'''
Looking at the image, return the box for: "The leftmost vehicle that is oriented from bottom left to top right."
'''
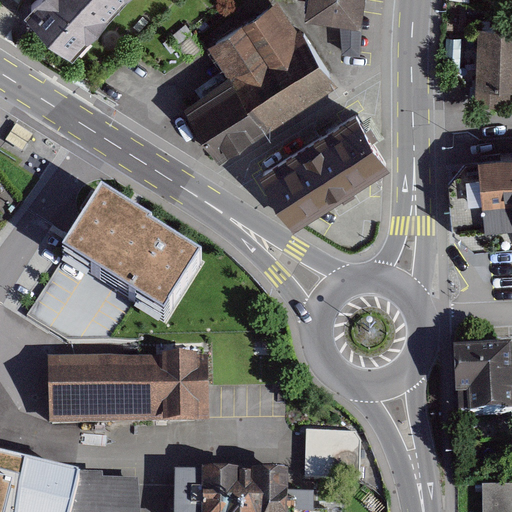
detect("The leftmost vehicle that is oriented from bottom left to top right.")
[262,152,284,169]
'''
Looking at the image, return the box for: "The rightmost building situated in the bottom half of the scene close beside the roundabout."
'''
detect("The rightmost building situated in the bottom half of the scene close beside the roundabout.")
[454,339,512,418]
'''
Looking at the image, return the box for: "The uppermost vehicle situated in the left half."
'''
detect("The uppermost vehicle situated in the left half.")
[132,64,149,80]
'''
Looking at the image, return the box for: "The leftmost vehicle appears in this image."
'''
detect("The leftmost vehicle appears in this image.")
[15,284,36,296]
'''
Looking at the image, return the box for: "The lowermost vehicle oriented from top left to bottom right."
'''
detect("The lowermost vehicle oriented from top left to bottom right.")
[294,301,313,324]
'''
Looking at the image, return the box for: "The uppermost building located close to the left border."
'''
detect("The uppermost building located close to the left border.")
[24,0,134,62]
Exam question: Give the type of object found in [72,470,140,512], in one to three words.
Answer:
shed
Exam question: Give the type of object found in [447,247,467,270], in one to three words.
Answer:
car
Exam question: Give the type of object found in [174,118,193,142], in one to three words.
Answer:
car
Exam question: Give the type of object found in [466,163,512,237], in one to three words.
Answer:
house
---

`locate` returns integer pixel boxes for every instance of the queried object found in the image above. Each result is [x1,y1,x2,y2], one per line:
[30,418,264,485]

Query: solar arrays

[54,384,151,415]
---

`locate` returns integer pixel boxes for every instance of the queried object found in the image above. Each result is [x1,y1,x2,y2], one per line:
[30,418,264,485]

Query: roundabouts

[302,262,439,400]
